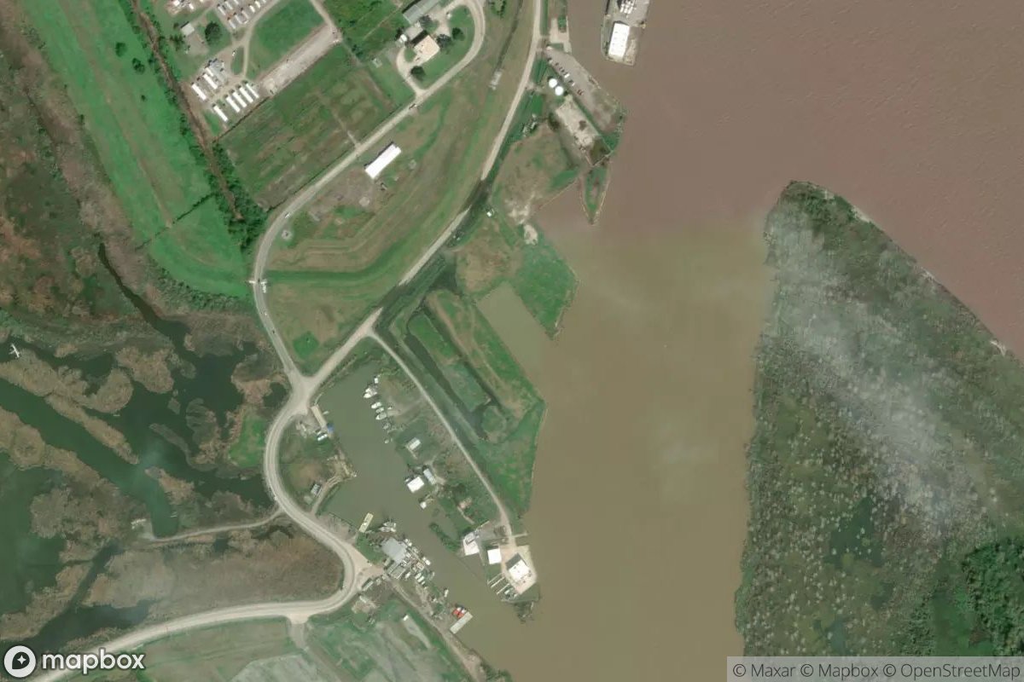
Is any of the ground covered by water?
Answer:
Yes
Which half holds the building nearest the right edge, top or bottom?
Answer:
top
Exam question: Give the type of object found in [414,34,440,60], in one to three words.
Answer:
building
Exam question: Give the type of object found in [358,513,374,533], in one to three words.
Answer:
ship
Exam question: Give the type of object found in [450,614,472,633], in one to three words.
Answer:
ship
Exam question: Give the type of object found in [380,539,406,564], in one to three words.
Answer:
shed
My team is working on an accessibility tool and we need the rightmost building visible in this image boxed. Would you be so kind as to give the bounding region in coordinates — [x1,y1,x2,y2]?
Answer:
[608,22,630,58]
